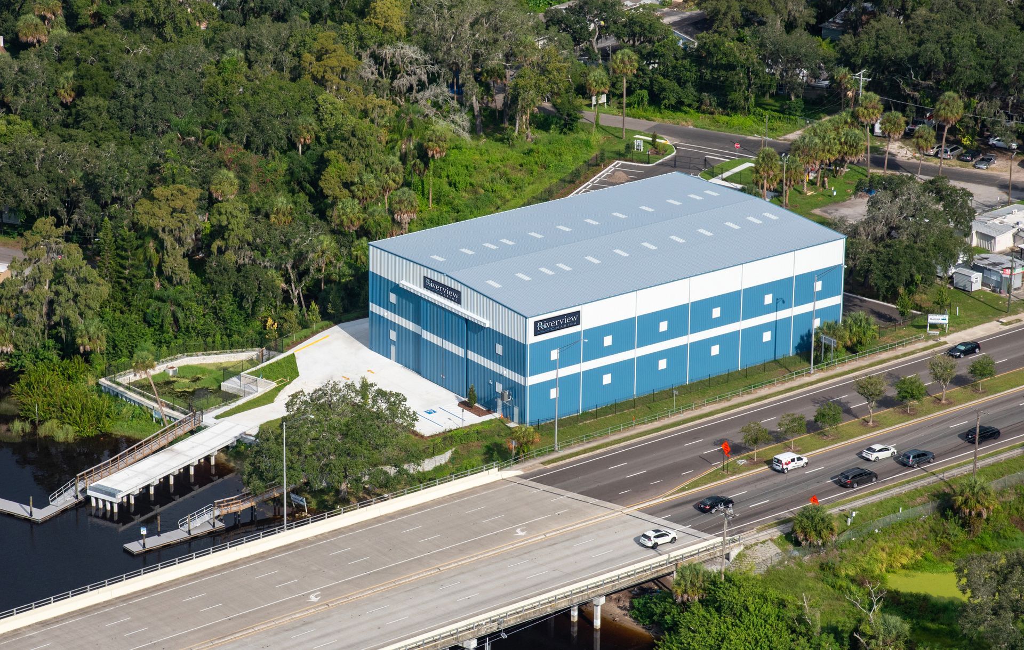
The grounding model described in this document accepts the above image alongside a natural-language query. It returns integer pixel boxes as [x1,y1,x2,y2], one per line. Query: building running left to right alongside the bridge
[365,170,846,428]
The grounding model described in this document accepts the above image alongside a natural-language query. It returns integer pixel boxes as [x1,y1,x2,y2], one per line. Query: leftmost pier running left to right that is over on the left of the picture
[0,491,89,526]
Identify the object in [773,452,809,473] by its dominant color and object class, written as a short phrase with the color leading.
white vehicle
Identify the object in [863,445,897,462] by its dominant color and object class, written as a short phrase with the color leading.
white car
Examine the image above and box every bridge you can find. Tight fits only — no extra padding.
[0,467,751,650]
